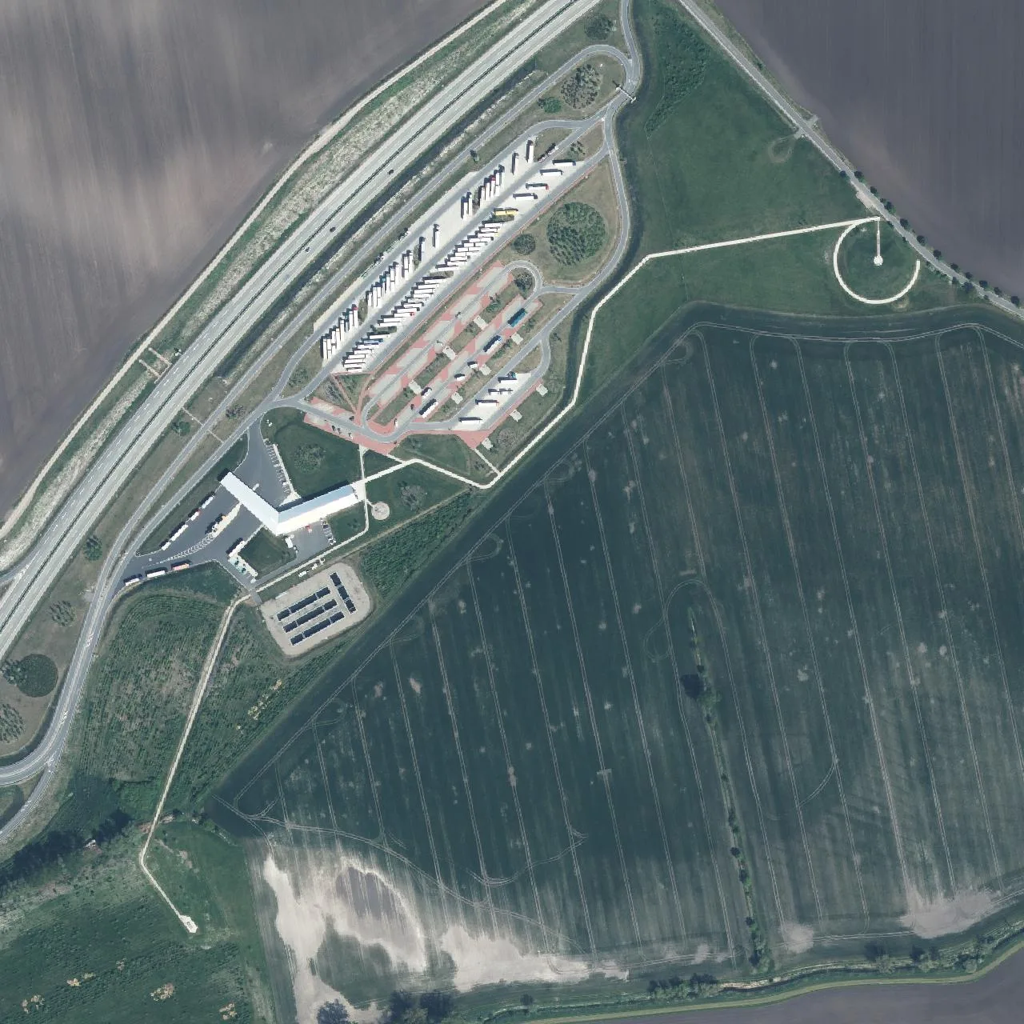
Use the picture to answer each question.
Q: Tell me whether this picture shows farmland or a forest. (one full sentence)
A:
What you see here is farmland.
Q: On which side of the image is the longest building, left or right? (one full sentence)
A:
The longest building is on the left side of the image.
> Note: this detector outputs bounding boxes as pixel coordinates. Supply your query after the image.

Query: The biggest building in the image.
[220,472,358,536]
